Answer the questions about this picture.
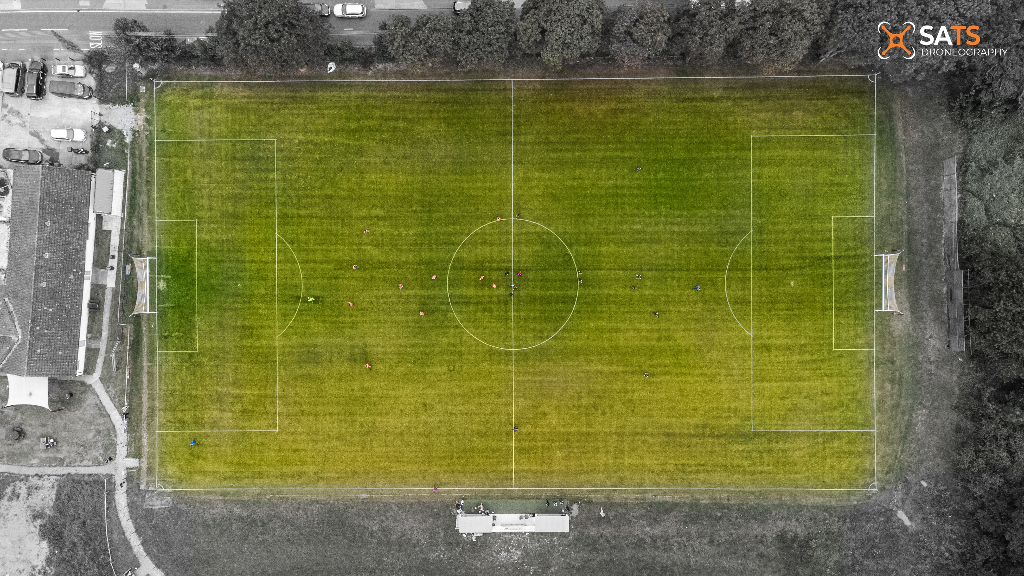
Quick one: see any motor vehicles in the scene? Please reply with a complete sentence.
Yes, a motor vehicle appears in the view.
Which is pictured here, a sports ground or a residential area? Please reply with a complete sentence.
The area seen from above is a sports ground.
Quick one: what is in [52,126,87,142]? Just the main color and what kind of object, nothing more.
white car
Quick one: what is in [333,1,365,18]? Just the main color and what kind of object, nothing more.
white car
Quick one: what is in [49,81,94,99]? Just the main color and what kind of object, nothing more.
gray vehicle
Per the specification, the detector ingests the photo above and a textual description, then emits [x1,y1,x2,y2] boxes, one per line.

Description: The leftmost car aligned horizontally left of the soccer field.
[4,147,43,164]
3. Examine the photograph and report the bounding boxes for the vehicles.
[1,60,25,97]
[49,81,94,99]
[52,61,87,77]
[303,1,331,18]
[67,148,87,153]
[4,147,43,164]
[453,2,471,17]
[333,1,365,18]
[25,60,46,99]
[52,126,87,142]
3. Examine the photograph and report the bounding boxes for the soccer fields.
[154,74,877,499]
